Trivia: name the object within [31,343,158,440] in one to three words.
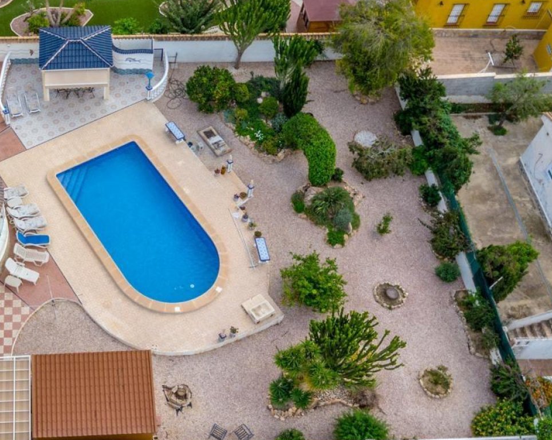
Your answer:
shed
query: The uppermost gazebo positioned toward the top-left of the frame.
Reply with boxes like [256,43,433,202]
[38,24,116,100]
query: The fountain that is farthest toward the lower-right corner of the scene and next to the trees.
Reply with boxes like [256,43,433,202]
[372,281,408,310]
